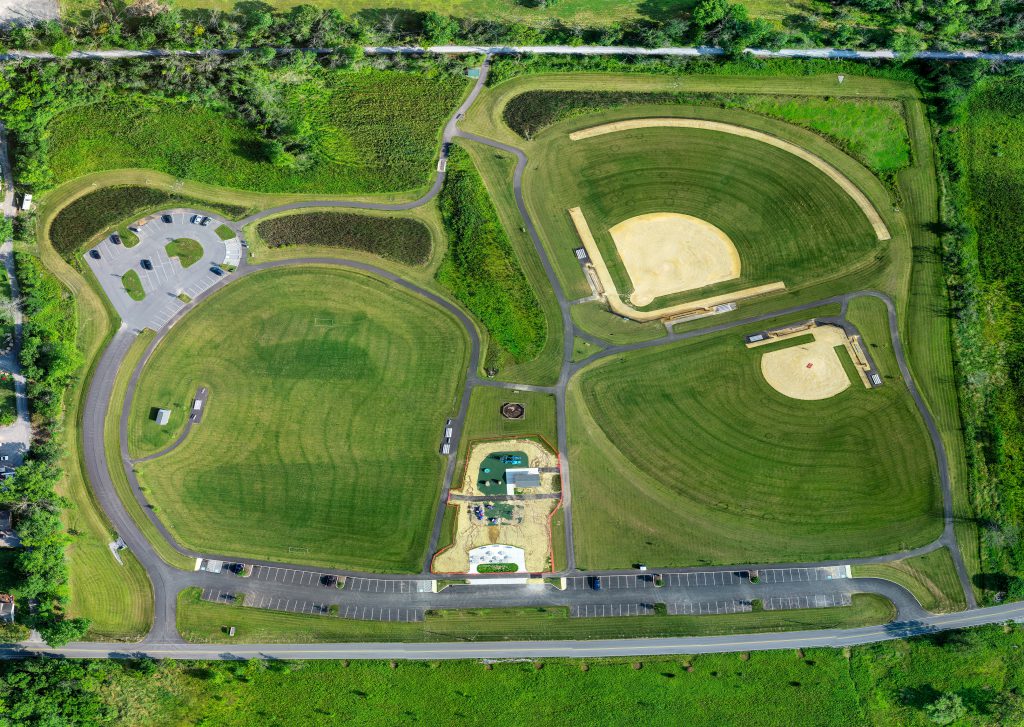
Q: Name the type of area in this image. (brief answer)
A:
sports ground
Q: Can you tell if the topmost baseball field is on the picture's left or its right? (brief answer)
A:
right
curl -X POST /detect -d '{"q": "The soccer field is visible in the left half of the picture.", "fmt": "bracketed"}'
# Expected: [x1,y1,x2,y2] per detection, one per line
[128,266,471,570]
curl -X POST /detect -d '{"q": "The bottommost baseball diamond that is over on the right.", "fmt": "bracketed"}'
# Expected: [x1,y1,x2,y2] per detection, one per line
[580,315,943,547]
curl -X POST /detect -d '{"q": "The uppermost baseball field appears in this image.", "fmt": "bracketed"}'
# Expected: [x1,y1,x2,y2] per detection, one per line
[545,115,897,325]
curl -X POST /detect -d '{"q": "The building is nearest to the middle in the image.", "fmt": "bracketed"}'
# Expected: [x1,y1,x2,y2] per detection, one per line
[513,472,541,488]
